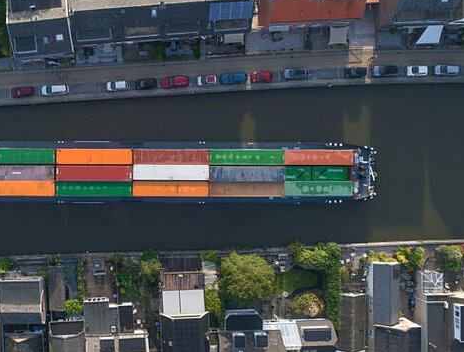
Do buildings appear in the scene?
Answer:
Yes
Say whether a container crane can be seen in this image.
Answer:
No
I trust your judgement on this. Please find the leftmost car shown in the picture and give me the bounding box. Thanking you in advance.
[11,86,34,98]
